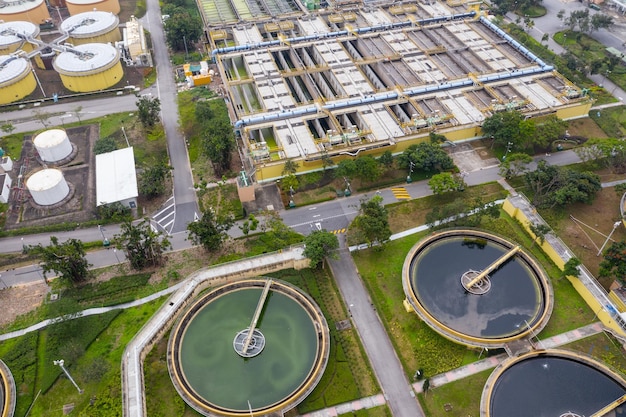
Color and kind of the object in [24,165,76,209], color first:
white storage tank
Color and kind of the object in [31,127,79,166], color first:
white storage tank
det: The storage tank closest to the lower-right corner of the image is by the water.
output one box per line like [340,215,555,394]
[474,341,626,417]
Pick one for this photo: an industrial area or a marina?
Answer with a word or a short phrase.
industrial area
